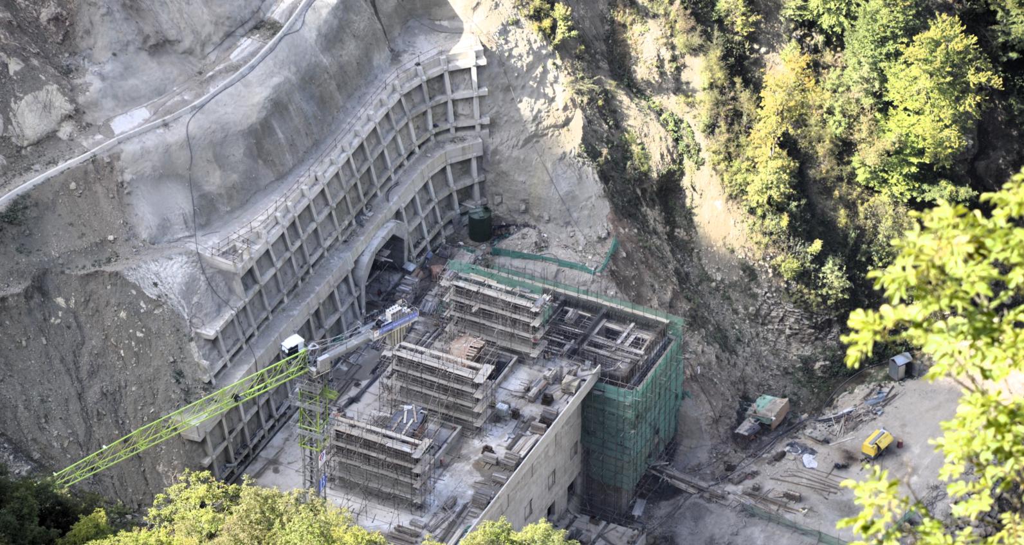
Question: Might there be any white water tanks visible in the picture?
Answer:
No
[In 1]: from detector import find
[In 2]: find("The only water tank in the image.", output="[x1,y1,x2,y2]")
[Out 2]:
[467,204,492,244]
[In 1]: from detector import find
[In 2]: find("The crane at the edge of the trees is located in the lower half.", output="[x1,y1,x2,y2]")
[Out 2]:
[56,303,423,506]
